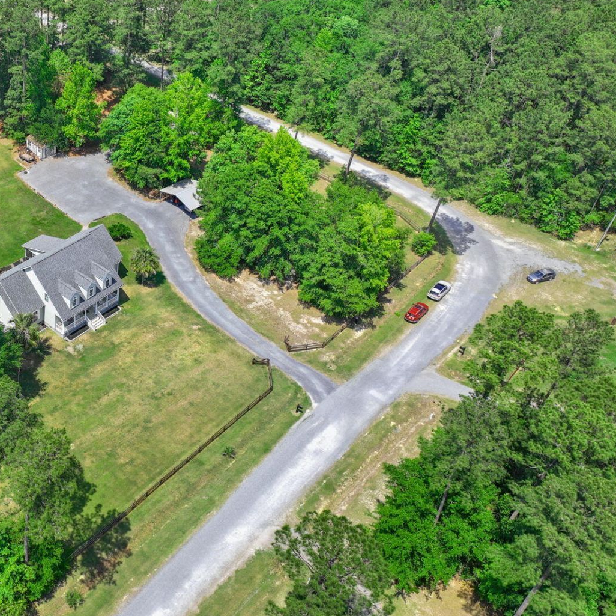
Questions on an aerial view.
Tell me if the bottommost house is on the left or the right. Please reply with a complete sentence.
It is on the left.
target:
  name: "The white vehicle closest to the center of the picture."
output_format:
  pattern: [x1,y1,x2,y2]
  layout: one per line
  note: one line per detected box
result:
[427,280,453,302]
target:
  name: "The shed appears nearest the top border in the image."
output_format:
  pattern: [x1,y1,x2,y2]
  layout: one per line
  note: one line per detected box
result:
[27,132,59,159]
